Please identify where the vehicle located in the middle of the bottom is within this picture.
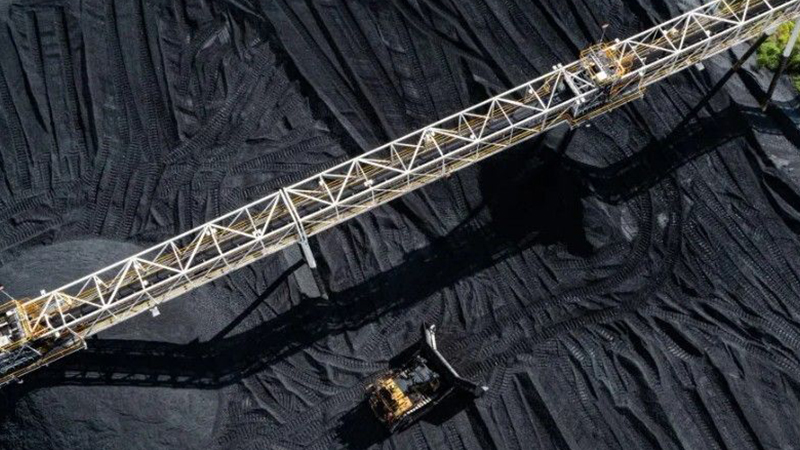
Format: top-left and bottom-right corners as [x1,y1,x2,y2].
[370,323,485,434]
